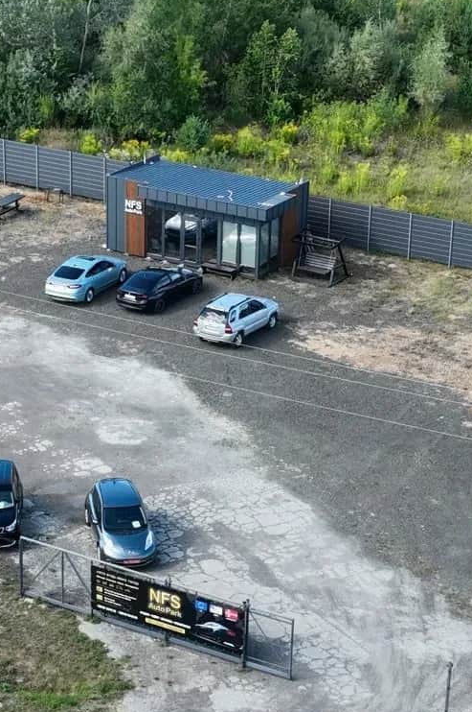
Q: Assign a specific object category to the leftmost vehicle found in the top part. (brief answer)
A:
automobile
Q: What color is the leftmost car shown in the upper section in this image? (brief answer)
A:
blue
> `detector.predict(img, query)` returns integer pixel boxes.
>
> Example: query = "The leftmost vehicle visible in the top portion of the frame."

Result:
[42,254,131,303]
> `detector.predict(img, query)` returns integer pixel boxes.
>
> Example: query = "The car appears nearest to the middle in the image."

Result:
[190,288,283,346]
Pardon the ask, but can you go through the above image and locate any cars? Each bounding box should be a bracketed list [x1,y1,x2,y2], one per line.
[0,461,31,556]
[42,254,131,303]
[190,288,283,346]
[83,472,158,565]
[113,264,206,312]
